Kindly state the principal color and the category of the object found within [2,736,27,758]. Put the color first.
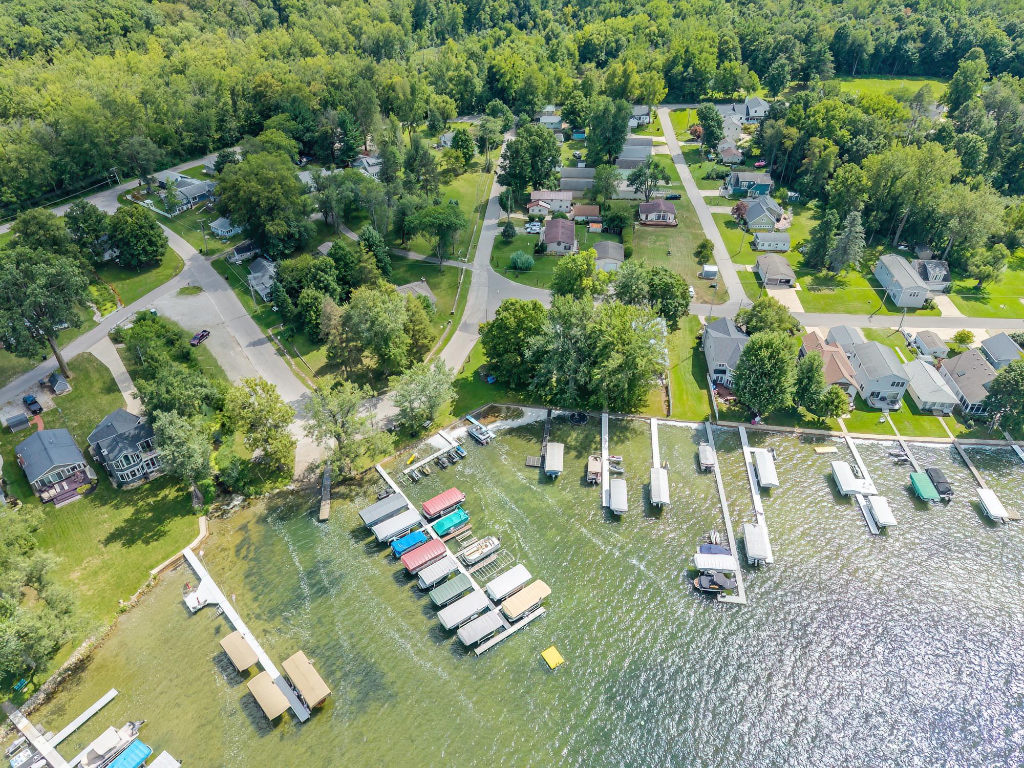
white boat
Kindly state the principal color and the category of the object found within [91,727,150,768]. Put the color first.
white boat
